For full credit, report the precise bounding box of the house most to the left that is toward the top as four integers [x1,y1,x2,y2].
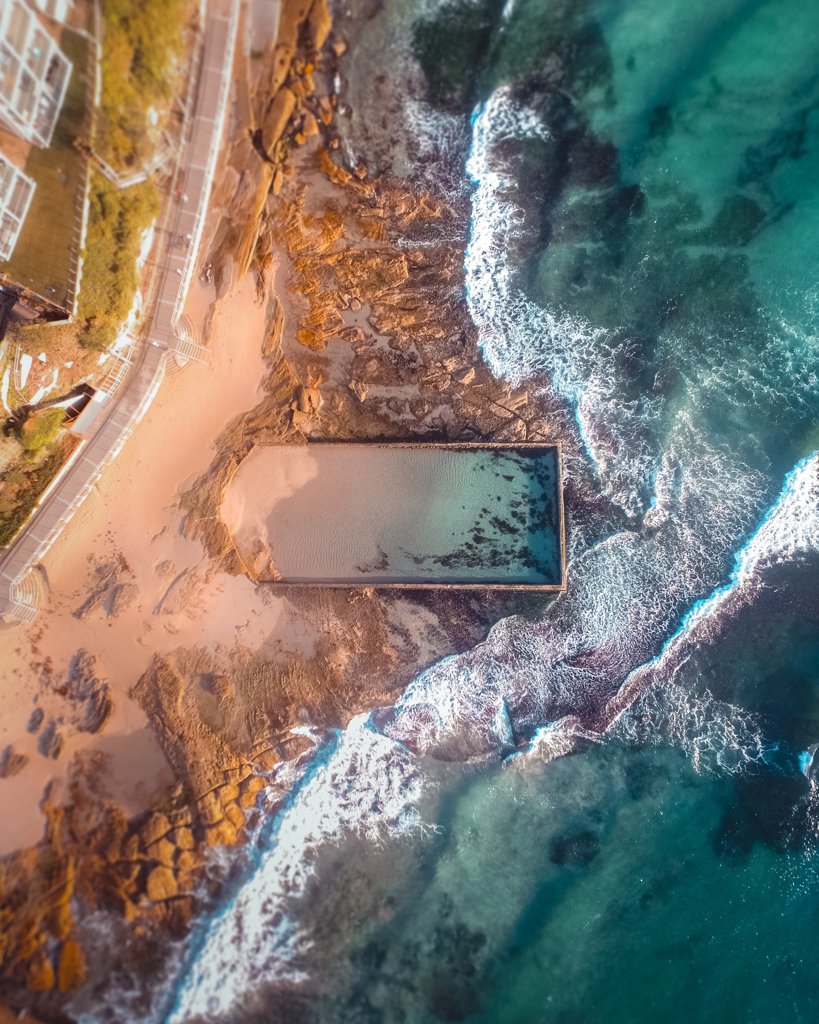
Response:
[0,284,40,348]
